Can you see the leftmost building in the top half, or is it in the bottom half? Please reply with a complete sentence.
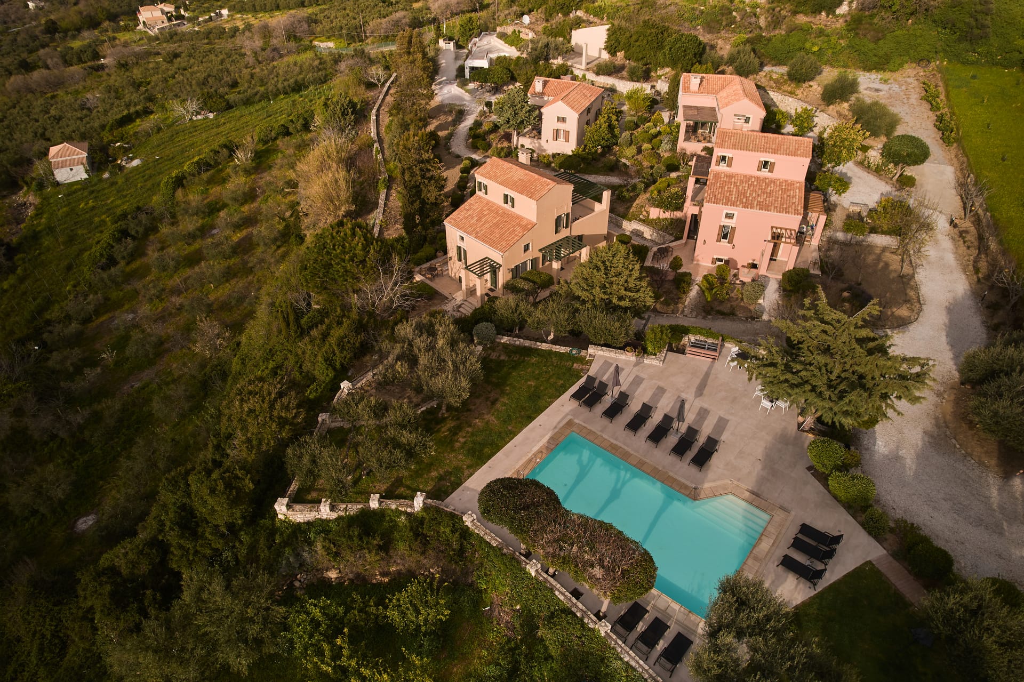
The top half of the photo is where the leftmost building is.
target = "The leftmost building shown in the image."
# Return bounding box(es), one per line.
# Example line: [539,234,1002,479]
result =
[51,139,106,184]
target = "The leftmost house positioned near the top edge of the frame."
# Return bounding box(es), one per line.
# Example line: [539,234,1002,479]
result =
[141,4,199,36]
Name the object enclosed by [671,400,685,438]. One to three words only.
umbrella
